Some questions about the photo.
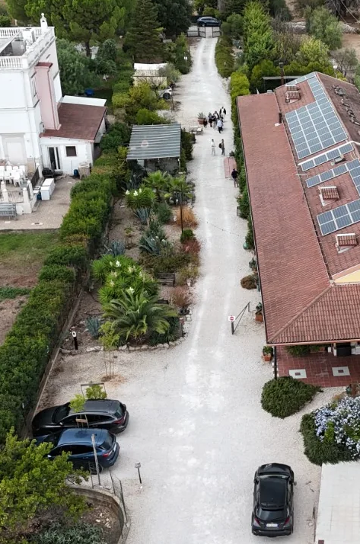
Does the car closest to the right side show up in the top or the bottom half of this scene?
bottom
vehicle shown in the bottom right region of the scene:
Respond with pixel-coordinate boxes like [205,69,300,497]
[247,467,296,538]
